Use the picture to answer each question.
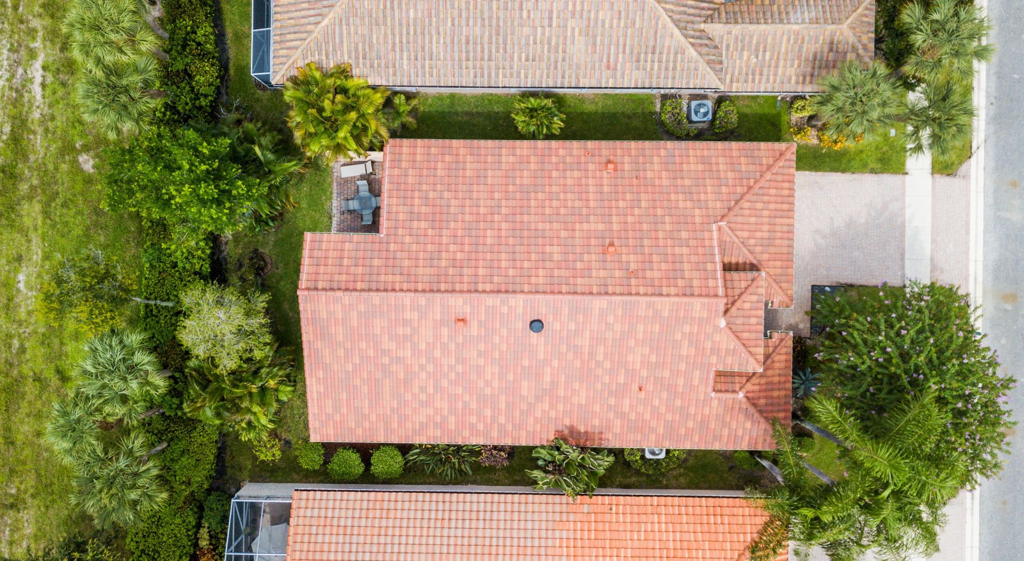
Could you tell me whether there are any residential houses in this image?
Yes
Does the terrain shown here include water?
No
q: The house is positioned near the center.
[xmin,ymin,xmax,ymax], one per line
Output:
[295,137,799,453]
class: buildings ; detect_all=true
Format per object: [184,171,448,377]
[269,0,879,116]
[286,483,789,561]
[295,137,799,453]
